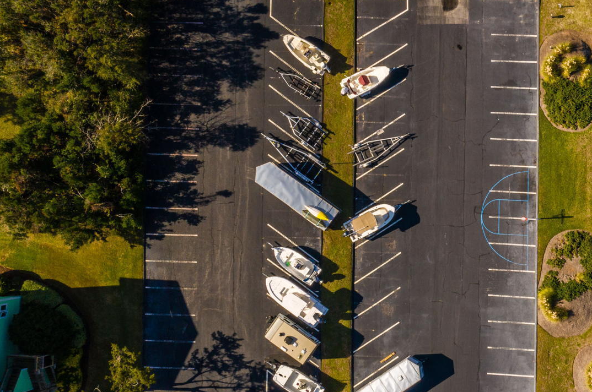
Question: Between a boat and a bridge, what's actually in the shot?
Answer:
boat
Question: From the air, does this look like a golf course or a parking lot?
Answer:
parking lot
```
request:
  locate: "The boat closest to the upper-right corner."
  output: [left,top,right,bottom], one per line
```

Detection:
[340,66,390,99]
